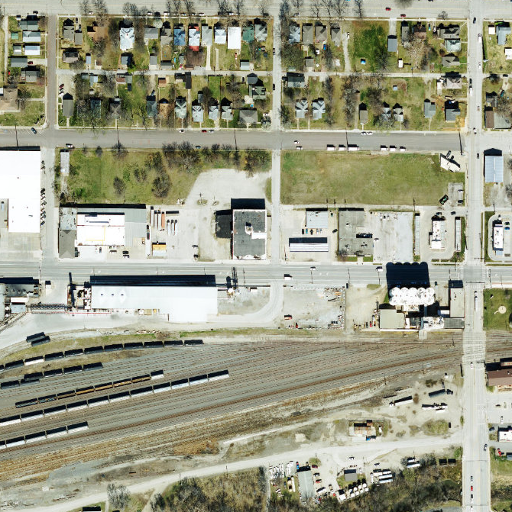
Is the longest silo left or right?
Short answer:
right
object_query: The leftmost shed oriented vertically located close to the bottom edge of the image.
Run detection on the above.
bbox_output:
[298,471,314,502]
